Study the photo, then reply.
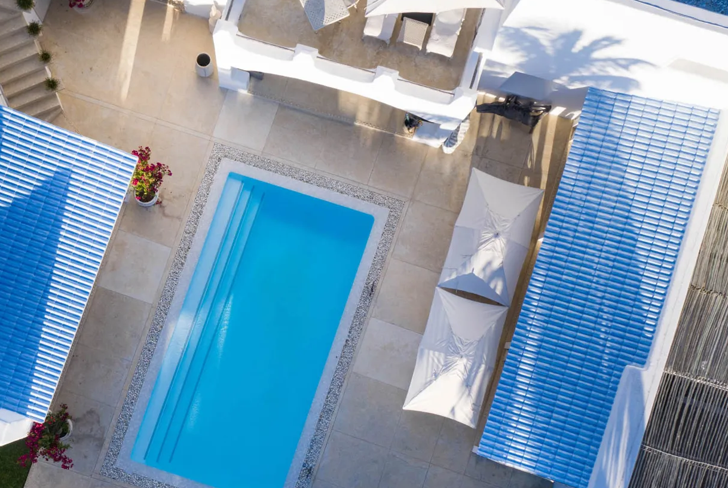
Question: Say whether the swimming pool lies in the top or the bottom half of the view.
bottom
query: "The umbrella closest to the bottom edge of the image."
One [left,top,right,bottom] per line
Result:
[403,288,508,429]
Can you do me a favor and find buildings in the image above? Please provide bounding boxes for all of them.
[0,102,137,447]
[475,89,728,488]
[214,0,524,147]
